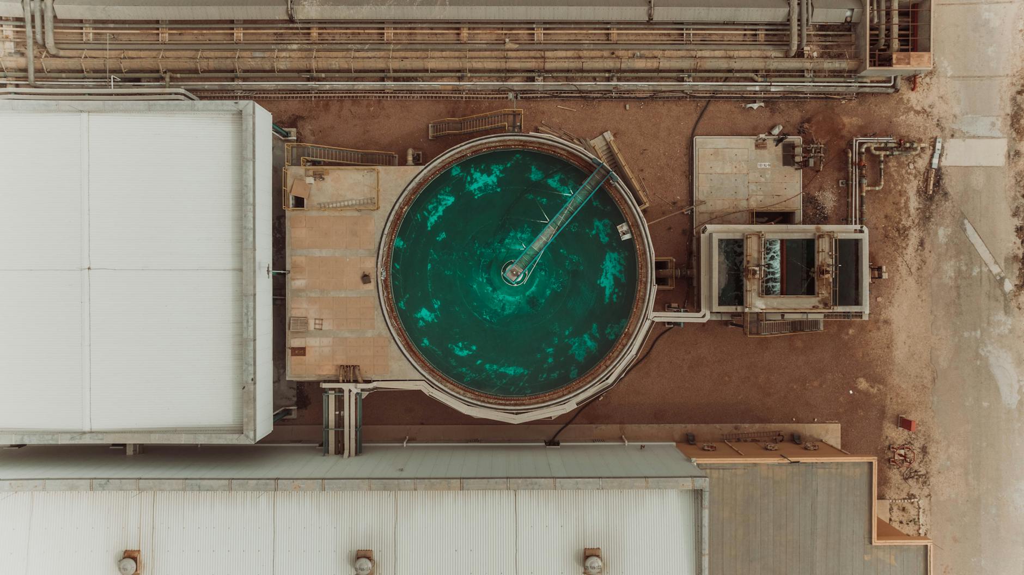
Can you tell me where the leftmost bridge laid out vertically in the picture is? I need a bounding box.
[743,234,764,296]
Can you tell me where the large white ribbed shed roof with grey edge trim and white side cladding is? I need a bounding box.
[0,100,297,443]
